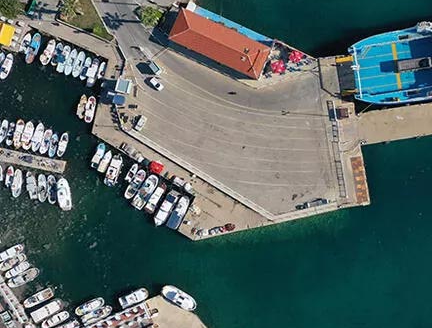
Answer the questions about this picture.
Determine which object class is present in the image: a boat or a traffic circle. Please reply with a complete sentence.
The one in the frame is a boat.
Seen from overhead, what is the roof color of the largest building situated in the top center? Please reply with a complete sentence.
The roof of the largest building situated in the top center is red.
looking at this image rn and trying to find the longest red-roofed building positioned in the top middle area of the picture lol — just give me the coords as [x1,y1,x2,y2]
[169,7,271,79]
